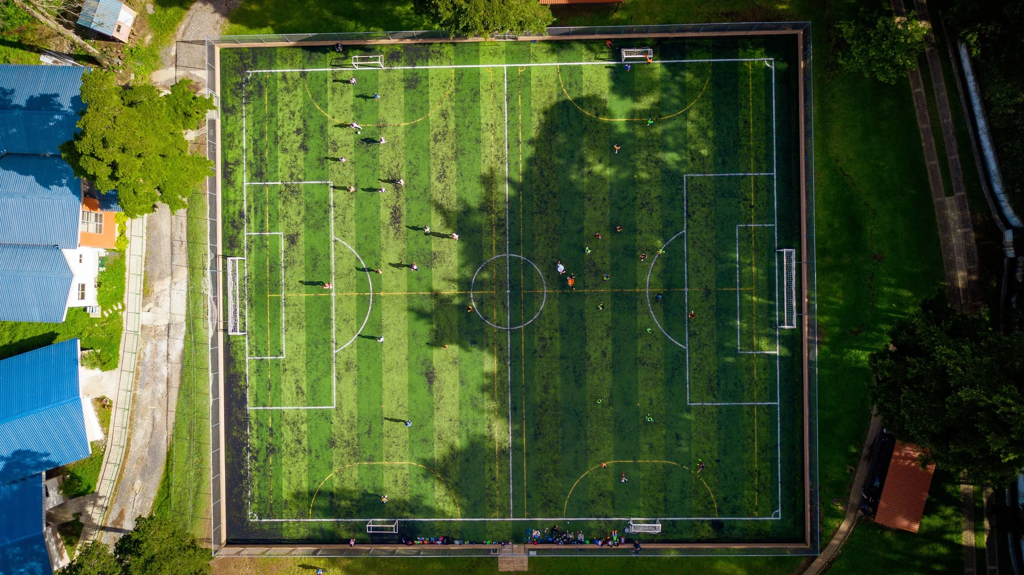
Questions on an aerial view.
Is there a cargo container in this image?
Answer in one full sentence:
No, there's no cargo container here.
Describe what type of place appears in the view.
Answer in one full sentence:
This looks like a sports ground.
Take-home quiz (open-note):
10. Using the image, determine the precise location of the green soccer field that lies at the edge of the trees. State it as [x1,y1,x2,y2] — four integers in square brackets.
[222,34,806,546]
